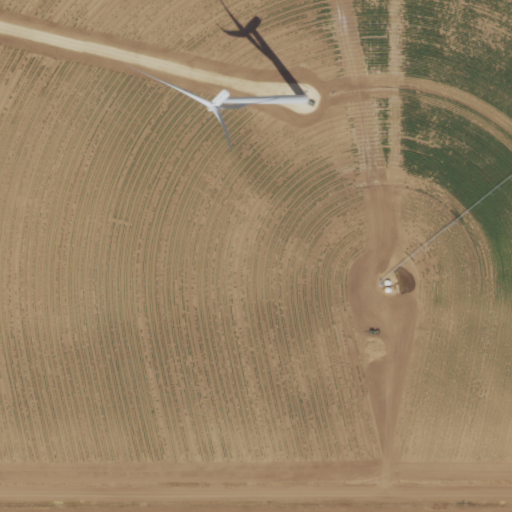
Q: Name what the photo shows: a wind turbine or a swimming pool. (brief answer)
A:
wind turbine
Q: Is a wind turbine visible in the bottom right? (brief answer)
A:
No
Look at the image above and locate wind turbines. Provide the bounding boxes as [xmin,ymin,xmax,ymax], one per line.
[129,67,314,150]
